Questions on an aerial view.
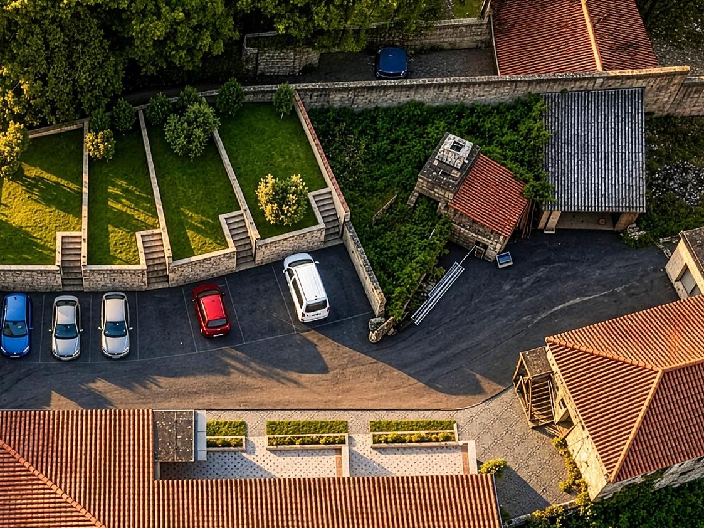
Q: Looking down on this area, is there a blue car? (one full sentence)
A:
Yes, looking at the shot, I can spot a blue car.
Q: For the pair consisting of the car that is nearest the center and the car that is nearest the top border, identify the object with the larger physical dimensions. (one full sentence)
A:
Of the two, the car that is nearest the center is larger and the car that is nearest the top border is the smaller one.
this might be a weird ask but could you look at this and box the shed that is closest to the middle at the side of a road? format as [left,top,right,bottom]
[413,133,530,265]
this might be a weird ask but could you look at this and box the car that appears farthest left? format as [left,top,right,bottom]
[0,294,33,359]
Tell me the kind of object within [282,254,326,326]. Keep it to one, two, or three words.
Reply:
car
